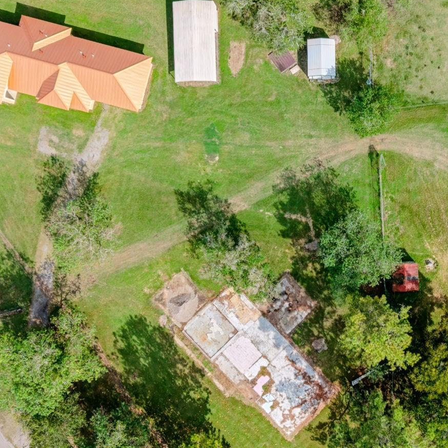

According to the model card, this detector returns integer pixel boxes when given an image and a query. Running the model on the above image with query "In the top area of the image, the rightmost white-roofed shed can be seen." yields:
[308,38,336,82]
